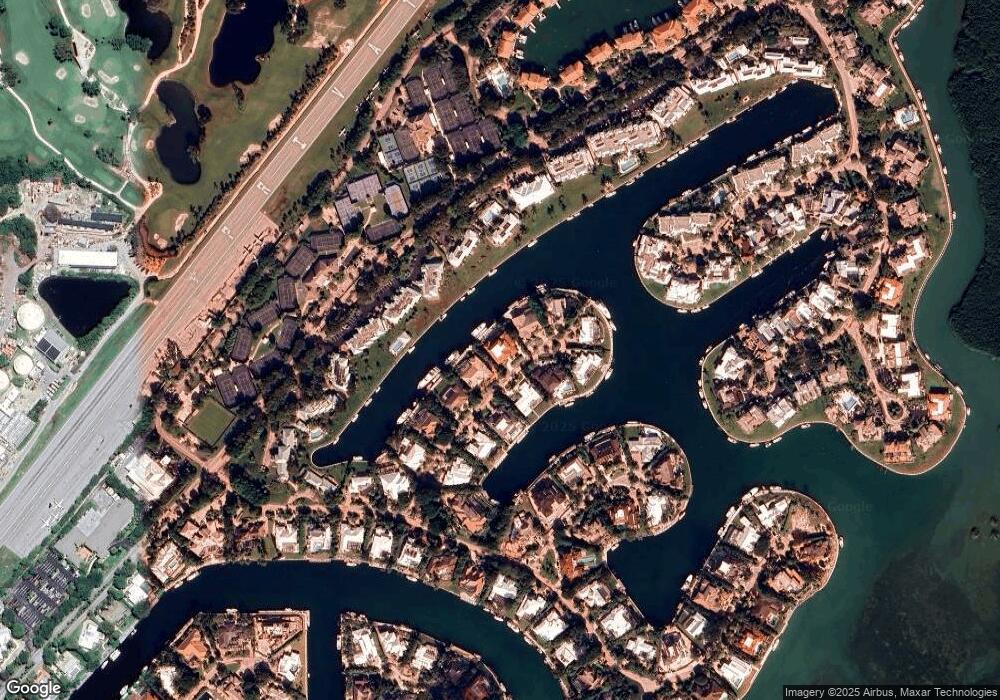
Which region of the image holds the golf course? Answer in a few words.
top left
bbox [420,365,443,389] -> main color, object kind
white boat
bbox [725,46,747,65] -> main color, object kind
white swimming pool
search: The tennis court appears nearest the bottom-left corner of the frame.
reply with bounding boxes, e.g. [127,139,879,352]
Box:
[215,365,257,405]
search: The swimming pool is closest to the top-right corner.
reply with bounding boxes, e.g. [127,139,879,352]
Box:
[894,105,921,129]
